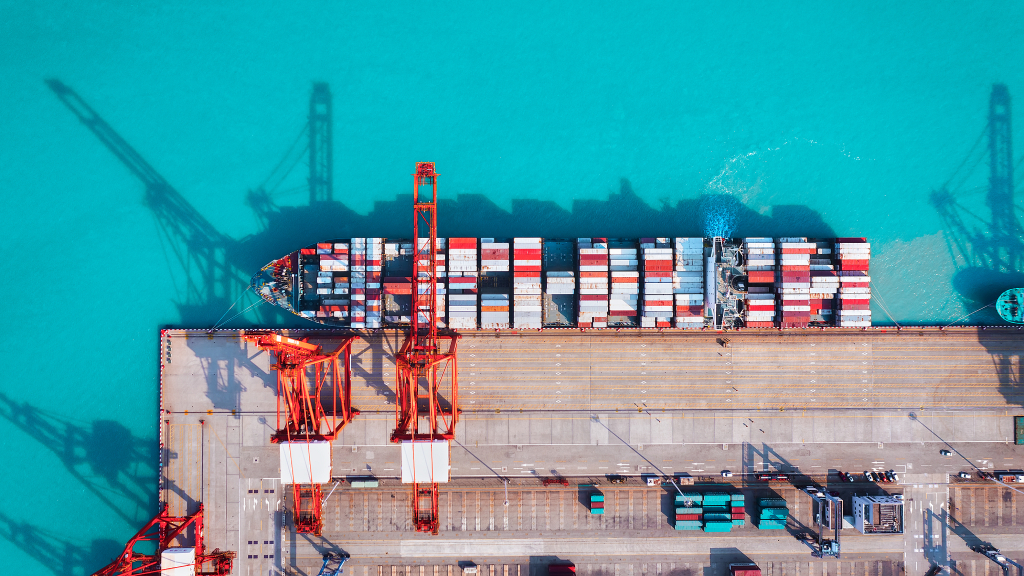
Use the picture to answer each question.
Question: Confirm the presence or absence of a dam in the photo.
No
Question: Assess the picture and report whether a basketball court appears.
No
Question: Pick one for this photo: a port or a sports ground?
port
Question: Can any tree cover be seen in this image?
No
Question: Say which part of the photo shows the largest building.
bottom right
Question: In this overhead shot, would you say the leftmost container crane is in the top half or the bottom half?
bottom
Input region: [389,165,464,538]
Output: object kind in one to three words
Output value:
container crane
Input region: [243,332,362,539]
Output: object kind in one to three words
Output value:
container crane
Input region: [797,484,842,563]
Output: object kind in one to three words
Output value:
crane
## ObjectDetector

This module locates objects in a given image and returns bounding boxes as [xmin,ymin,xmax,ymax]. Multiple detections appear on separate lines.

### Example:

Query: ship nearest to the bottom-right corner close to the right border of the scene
[994,286,1024,324]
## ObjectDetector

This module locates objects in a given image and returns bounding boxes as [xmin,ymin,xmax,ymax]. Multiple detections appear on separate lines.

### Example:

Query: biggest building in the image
[852,496,904,535]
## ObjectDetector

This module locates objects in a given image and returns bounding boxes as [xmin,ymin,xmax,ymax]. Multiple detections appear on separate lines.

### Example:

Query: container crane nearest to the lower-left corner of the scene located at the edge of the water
[92,501,245,576]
